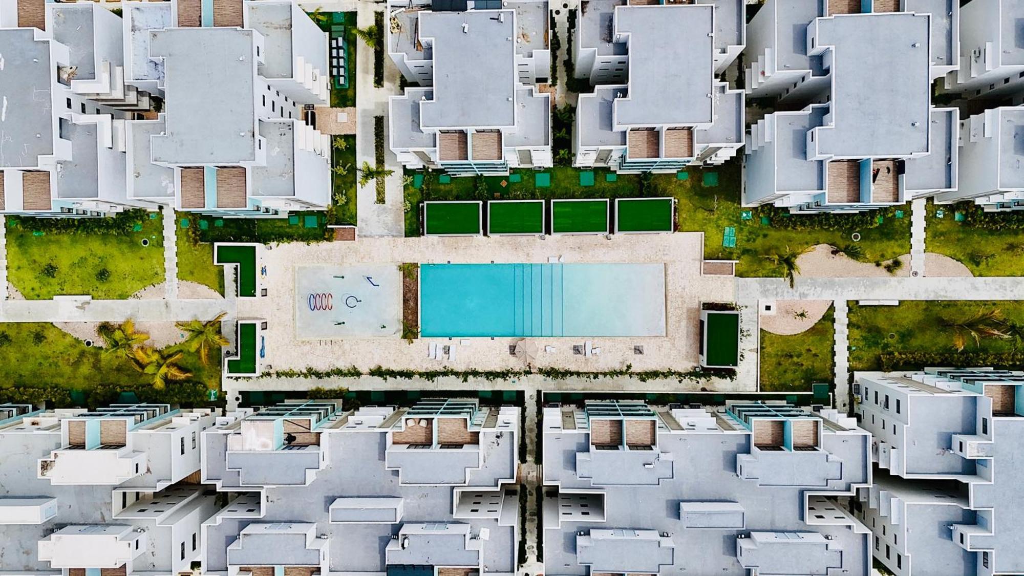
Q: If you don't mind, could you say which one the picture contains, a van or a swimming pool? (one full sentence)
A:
This aerial view contains a swimming pool.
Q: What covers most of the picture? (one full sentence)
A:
Most of the picture is covered by buildings.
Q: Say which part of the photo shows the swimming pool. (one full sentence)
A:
The swimming pool is located in the center region of the scene.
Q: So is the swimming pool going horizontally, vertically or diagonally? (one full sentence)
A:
In this picture, the swimming pool lies horizontally.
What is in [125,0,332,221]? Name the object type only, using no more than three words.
building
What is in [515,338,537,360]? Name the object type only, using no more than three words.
umbrella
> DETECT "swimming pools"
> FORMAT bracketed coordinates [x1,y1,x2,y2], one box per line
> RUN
[419,261,667,338]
